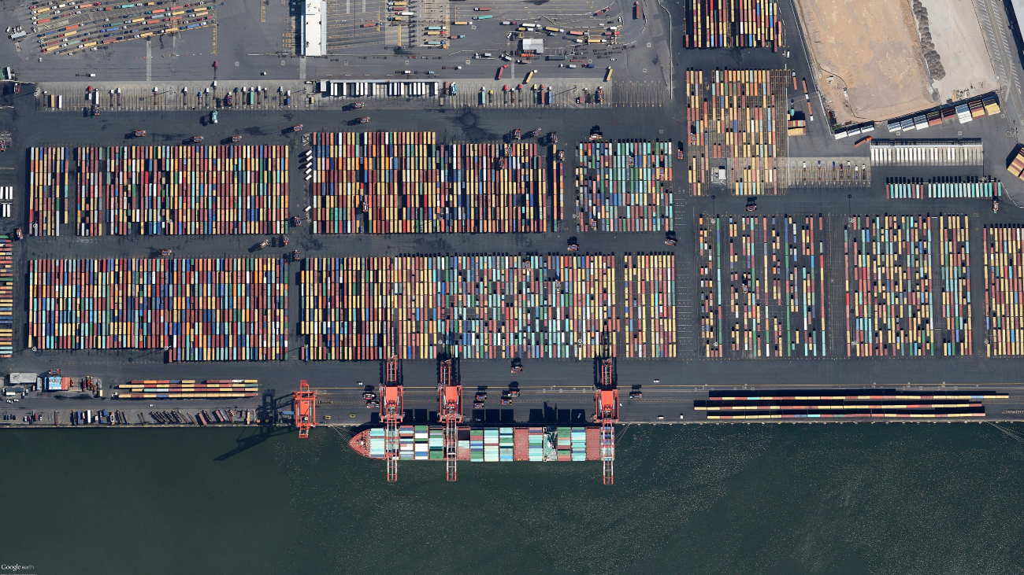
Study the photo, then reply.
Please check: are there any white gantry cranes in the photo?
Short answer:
No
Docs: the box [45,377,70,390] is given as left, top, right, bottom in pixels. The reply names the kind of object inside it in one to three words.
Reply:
building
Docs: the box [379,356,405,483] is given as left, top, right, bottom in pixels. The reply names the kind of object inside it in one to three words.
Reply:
container crane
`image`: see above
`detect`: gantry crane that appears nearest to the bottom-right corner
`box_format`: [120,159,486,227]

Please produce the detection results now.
[594,356,620,483]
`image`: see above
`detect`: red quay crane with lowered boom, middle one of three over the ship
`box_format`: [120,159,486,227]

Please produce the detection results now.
[438,356,464,483]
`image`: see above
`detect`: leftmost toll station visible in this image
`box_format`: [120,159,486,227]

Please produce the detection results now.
[407,0,432,46]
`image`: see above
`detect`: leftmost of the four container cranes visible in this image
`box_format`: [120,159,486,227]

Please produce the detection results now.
[292,381,318,440]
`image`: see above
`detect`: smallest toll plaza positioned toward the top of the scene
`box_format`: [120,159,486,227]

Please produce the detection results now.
[578,29,623,44]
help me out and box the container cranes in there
[594,356,620,483]
[292,381,318,440]
[379,356,405,483]
[438,356,464,483]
